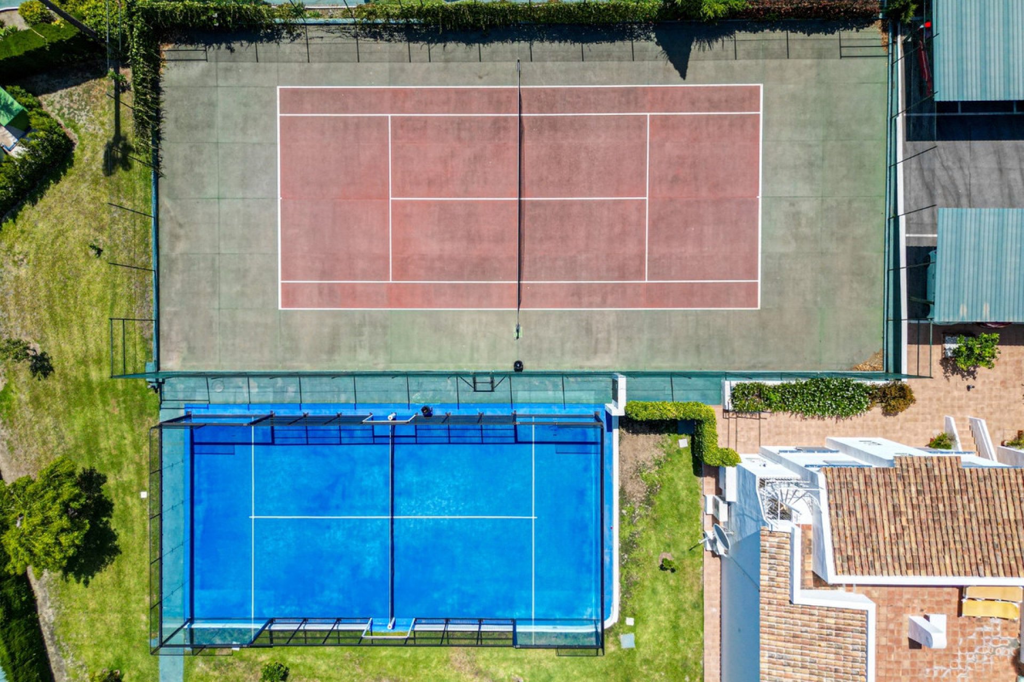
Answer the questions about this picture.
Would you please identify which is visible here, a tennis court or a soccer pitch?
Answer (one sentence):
There is a tennis court in the scene.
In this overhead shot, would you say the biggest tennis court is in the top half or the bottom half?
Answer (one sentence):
You can find the biggest tennis court in the top half.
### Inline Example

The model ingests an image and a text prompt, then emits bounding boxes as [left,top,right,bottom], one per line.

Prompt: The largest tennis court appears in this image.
[155,22,888,370]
